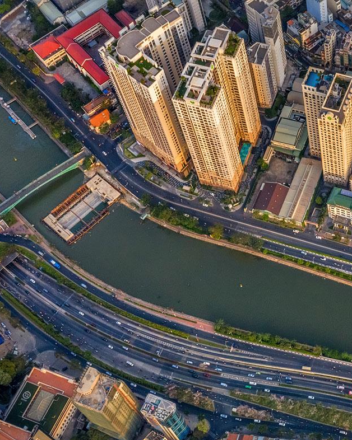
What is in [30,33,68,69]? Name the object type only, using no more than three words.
building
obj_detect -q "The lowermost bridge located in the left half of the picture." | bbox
[0,151,101,211]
